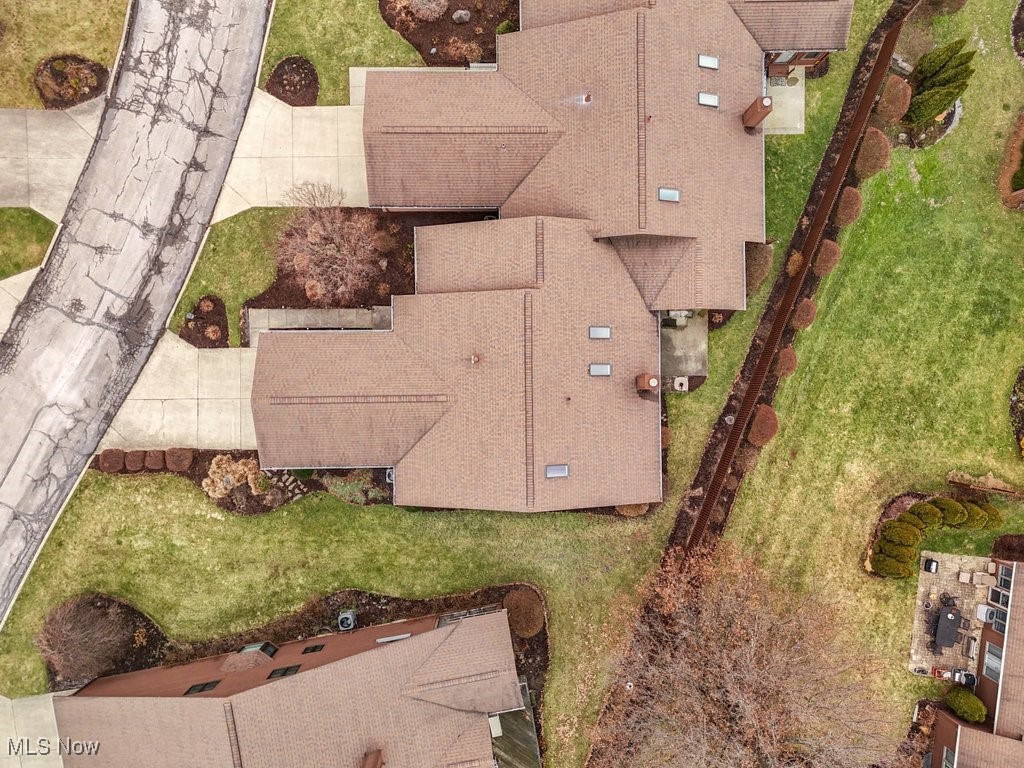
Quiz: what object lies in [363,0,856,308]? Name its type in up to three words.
house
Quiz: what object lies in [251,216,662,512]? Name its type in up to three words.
house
